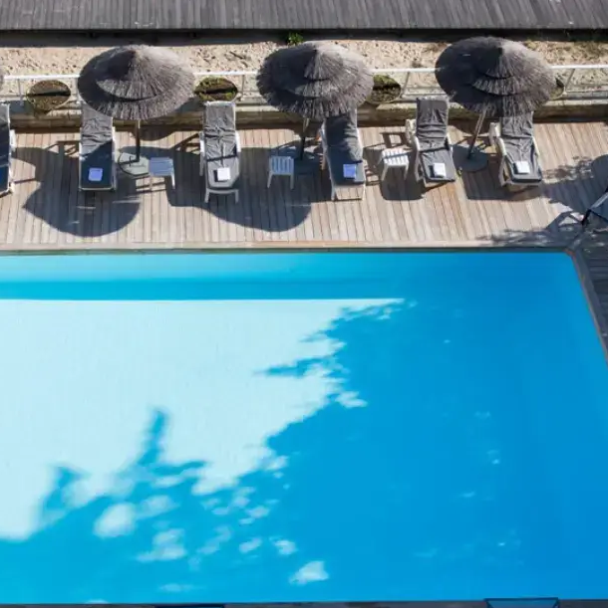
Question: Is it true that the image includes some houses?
No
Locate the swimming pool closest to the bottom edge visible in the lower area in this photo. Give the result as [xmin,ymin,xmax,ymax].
[0,256,608,607]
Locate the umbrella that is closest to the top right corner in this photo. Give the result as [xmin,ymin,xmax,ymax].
[439,41,556,172]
